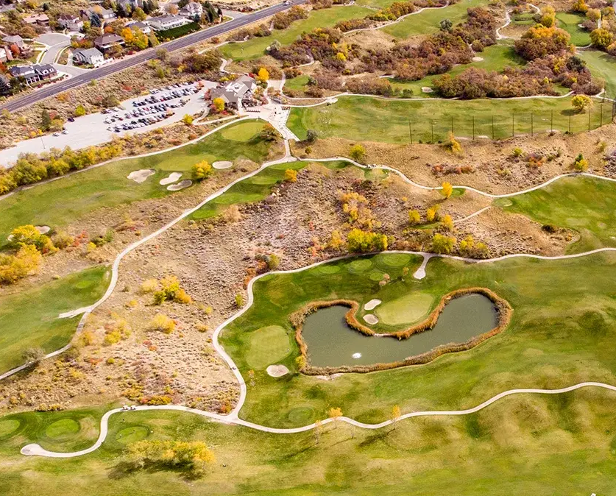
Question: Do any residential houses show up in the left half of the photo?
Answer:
Yes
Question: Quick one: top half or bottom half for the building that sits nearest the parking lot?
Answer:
top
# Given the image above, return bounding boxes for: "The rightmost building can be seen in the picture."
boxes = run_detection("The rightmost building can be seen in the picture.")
[209,74,274,108]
